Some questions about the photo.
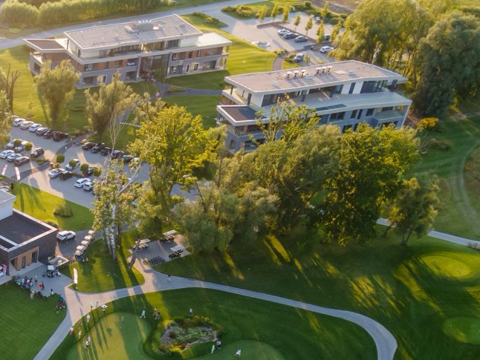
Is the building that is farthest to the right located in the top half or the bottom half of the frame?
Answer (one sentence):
You can find the building that is farthest to the right in the top half.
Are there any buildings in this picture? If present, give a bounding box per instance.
[0,191,57,277]
[216,61,411,146]
[22,15,230,85]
